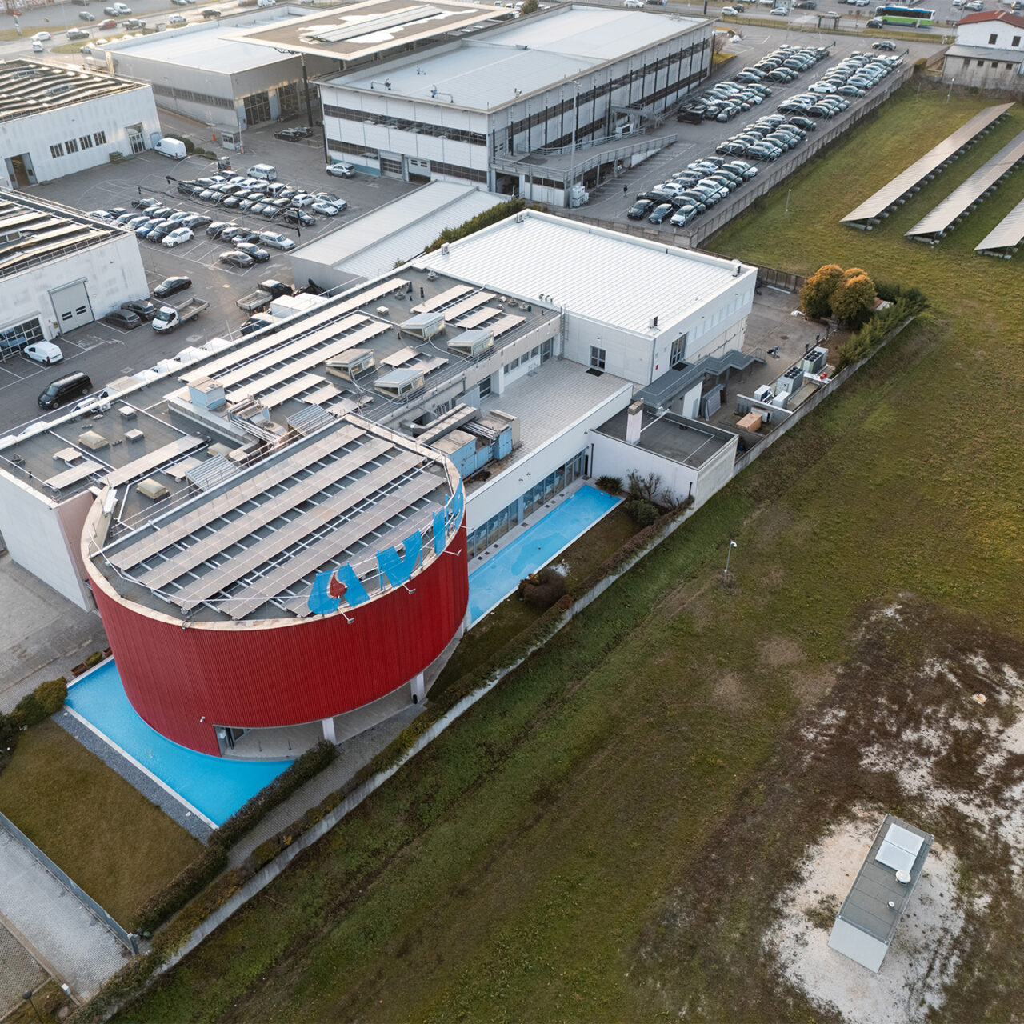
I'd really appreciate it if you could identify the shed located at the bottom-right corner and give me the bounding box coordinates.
[824,814,940,969]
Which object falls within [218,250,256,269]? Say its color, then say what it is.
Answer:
gray car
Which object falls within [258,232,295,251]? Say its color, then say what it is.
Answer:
gray car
